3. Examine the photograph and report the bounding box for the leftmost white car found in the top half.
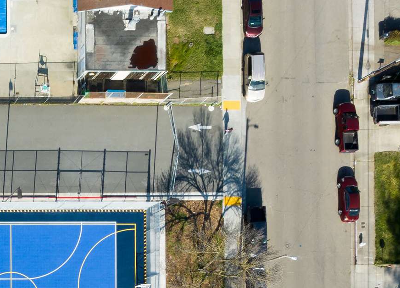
[243,55,268,102]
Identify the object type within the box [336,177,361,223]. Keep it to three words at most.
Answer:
car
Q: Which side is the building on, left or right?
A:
left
